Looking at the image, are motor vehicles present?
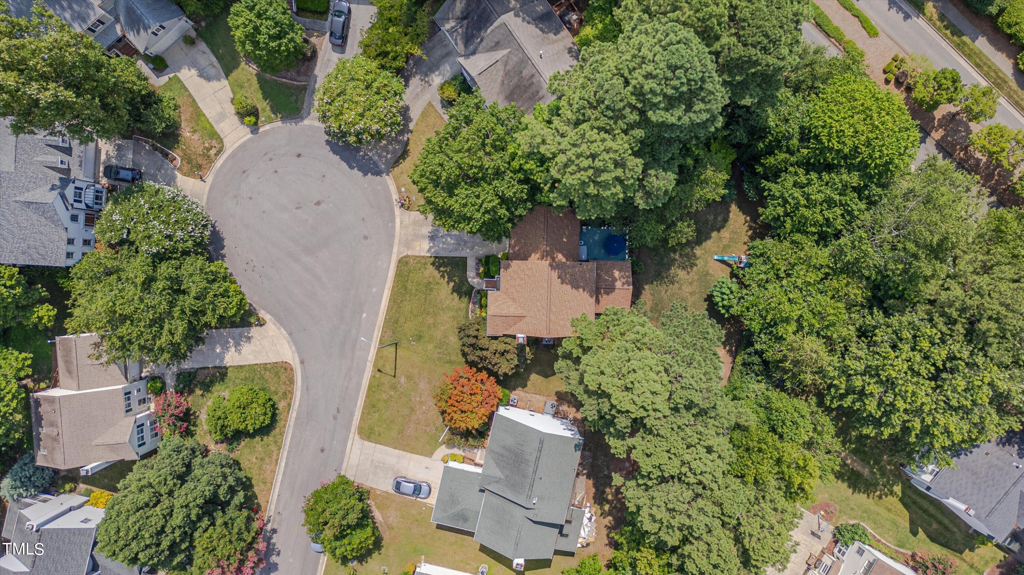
Yes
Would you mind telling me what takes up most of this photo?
trees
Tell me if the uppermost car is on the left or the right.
left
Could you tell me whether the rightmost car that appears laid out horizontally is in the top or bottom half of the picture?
bottom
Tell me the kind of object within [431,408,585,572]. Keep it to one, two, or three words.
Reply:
house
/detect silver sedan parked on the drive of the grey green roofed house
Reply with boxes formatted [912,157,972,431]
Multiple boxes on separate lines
[390,479,431,501]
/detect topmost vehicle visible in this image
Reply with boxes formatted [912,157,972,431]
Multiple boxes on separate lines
[328,1,349,44]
